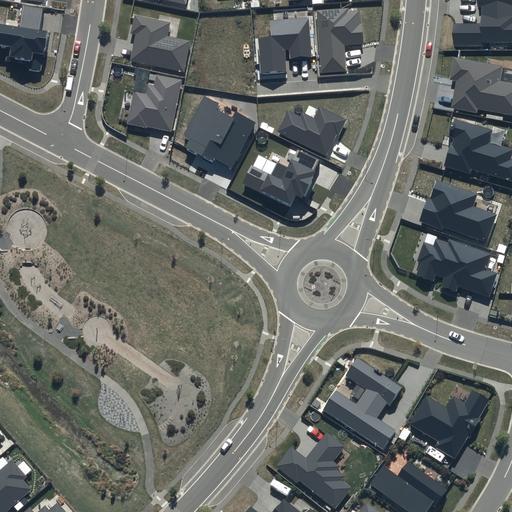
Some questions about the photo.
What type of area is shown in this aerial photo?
residential area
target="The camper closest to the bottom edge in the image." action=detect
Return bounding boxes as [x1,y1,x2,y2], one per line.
[270,480,291,496]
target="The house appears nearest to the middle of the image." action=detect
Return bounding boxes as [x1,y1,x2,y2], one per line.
[242,150,318,210]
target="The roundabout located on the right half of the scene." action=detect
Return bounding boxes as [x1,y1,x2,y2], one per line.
[276,238,368,330]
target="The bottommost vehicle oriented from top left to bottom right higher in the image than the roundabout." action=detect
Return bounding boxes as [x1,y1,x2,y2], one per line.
[333,144,349,158]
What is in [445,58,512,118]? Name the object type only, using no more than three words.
house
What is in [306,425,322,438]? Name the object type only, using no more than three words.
vehicle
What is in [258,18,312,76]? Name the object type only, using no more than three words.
house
